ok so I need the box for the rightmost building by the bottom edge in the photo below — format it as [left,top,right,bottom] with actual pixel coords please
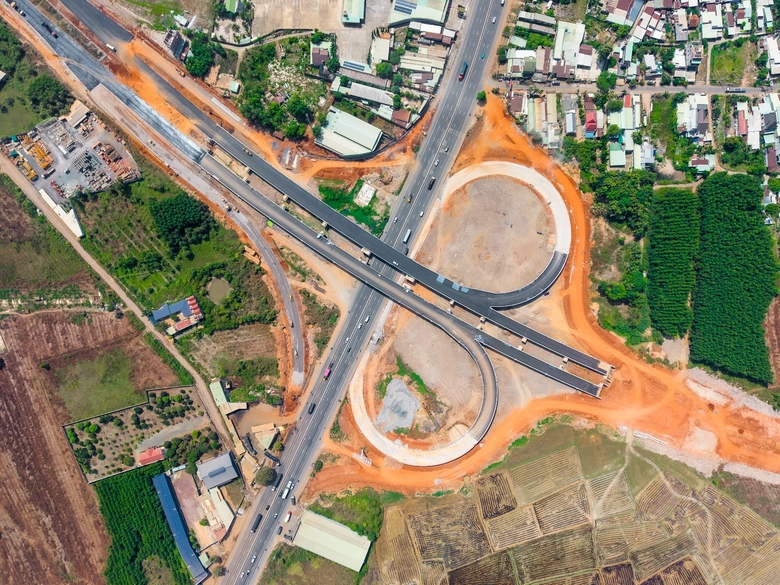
[293,507,372,571]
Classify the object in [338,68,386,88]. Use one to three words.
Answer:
building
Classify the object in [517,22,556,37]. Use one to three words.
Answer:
house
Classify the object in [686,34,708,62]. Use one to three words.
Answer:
building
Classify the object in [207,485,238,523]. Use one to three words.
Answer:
shed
